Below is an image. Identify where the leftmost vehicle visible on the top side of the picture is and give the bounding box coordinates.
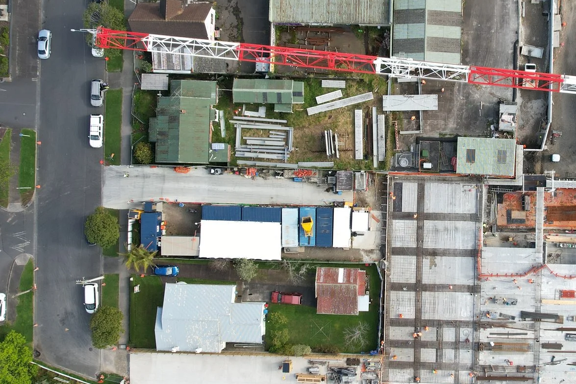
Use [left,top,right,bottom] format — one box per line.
[36,30,51,60]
